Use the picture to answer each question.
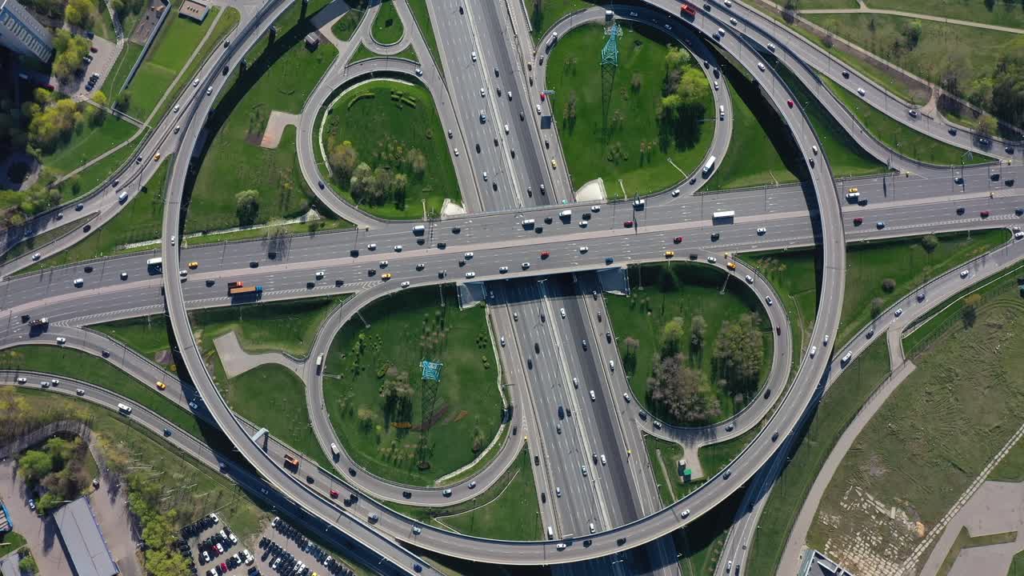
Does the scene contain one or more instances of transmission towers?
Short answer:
Yes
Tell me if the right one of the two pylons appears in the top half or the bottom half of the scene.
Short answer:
top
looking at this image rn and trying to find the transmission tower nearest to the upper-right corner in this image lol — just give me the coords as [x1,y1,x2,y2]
[599,26,624,68]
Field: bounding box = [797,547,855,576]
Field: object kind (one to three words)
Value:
building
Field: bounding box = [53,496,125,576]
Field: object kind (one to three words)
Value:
building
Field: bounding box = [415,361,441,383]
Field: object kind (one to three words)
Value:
pylon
